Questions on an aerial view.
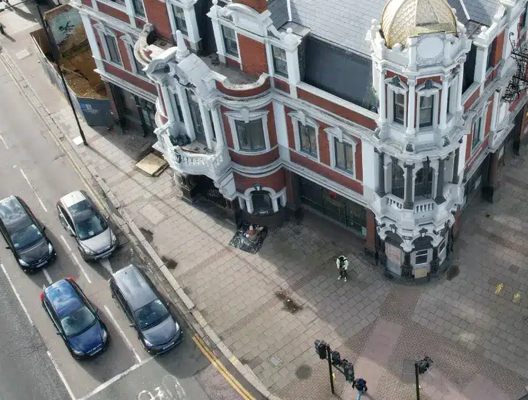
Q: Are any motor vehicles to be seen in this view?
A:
Yes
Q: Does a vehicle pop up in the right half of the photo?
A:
No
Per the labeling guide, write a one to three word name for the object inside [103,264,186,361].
car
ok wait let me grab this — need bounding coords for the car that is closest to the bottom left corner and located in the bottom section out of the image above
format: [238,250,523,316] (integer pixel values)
[33,270,112,368]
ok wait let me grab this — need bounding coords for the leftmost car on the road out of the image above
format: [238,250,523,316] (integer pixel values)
[0,192,60,281]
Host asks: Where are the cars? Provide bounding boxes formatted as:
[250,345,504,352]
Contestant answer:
[33,270,112,368]
[52,188,123,269]
[0,192,60,281]
[103,264,186,361]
